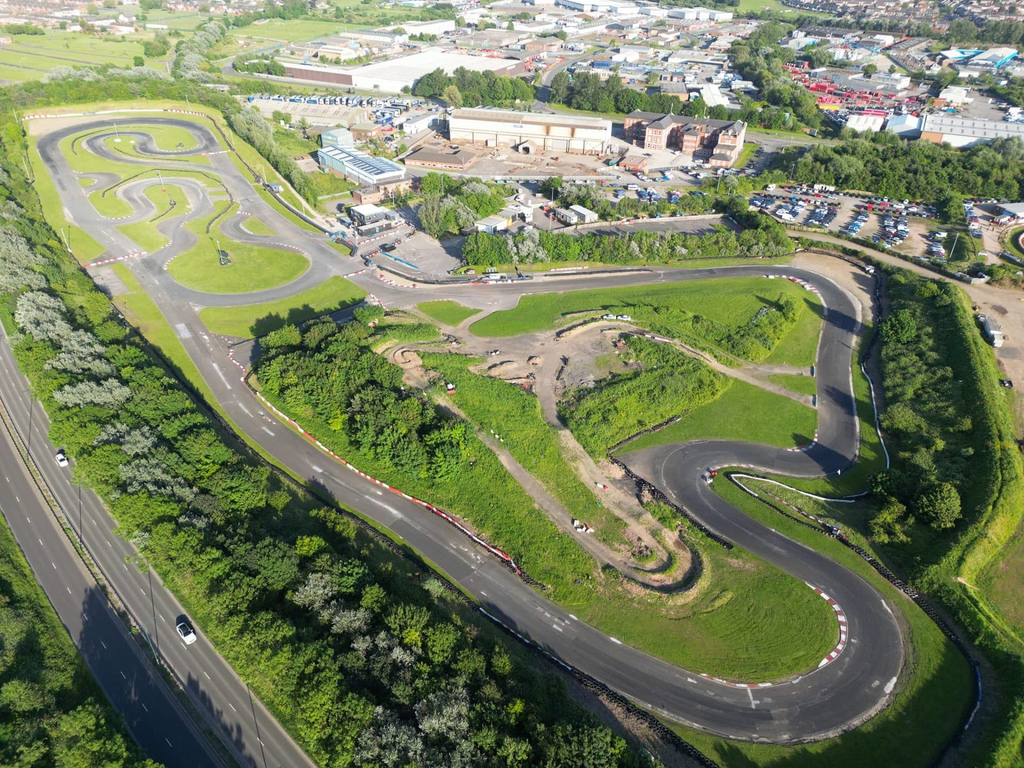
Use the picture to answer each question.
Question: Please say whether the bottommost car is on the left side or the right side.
left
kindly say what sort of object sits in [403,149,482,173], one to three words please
building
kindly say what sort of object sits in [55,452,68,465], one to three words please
vehicle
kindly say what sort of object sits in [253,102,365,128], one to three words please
shed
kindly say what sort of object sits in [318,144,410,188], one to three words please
building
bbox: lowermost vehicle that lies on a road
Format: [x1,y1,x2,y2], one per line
[176,622,197,644]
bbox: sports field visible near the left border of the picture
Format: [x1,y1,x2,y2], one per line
[0,30,177,76]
